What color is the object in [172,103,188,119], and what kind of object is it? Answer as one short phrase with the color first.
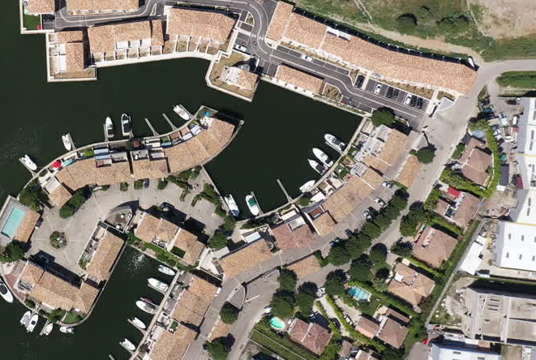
white boat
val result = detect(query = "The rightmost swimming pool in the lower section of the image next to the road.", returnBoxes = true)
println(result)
[346,287,373,303]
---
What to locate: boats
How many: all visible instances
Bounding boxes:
[226,193,238,216]
[148,279,170,292]
[0,277,11,302]
[133,315,146,328]
[308,159,325,174]
[172,103,188,119]
[123,114,131,138]
[299,181,314,192]
[62,133,71,150]
[313,148,333,166]
[157,265,174,274]
[20,310,30,327]
[60,327,75,333]
[323,134,344,152]
[122,338,135,350]
[136,301,158,315]
[22,154,34,169]
[245,194,258,215]
[106,117,113,140]
[44,323,53,337]
[26,314,37,333]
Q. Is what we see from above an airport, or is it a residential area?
residential area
